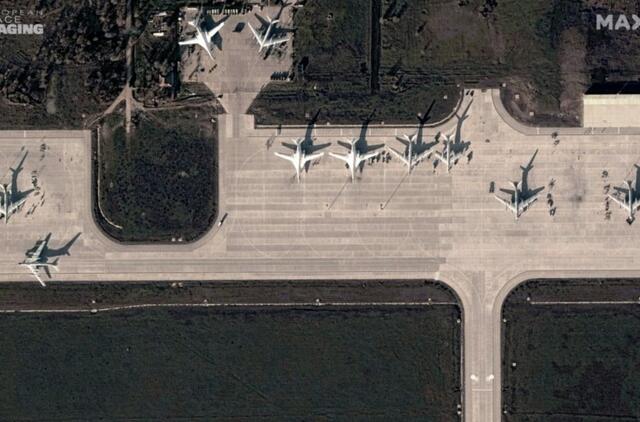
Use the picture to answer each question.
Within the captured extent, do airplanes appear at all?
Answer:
Yes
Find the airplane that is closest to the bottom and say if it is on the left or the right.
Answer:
left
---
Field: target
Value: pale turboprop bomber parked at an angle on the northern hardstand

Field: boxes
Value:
[248,13,290,54]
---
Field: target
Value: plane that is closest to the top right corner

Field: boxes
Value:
[609,179,640,221]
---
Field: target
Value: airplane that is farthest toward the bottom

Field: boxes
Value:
[19,242,60,286]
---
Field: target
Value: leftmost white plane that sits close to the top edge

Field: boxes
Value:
[179,16,223,59]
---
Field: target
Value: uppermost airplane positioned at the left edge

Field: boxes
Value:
[0,181,28,223]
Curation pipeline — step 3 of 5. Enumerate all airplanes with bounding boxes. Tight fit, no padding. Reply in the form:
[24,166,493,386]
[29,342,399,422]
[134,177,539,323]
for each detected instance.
[179,16,223,59]
[434,131,463,173]
[609,179,640,221]
[19,242,60,286]
[329,136,379,183]
[495,179,539,219]
[0,181,28,223]
[388,133,432,174]
[274,136,323,183]
[248,13,290,54]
